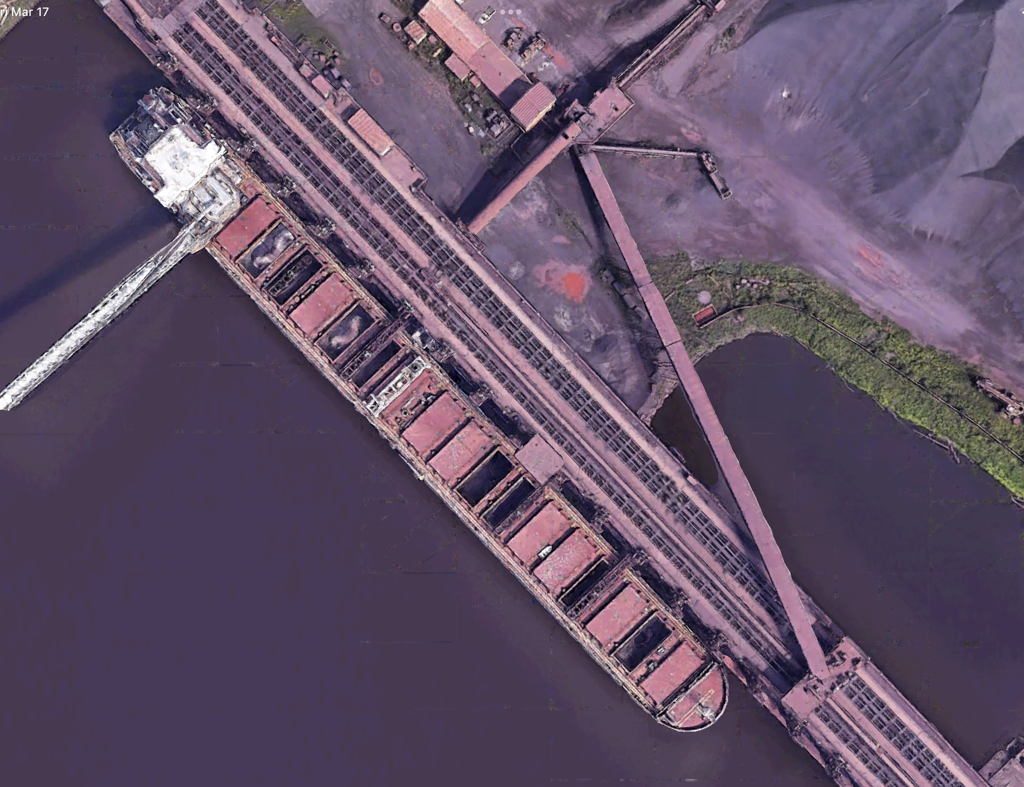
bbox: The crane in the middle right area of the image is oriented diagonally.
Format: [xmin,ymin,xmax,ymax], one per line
[972,377,1024,418]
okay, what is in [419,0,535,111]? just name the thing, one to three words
building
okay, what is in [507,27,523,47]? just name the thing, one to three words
work vehicle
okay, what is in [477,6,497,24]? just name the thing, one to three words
vehicle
